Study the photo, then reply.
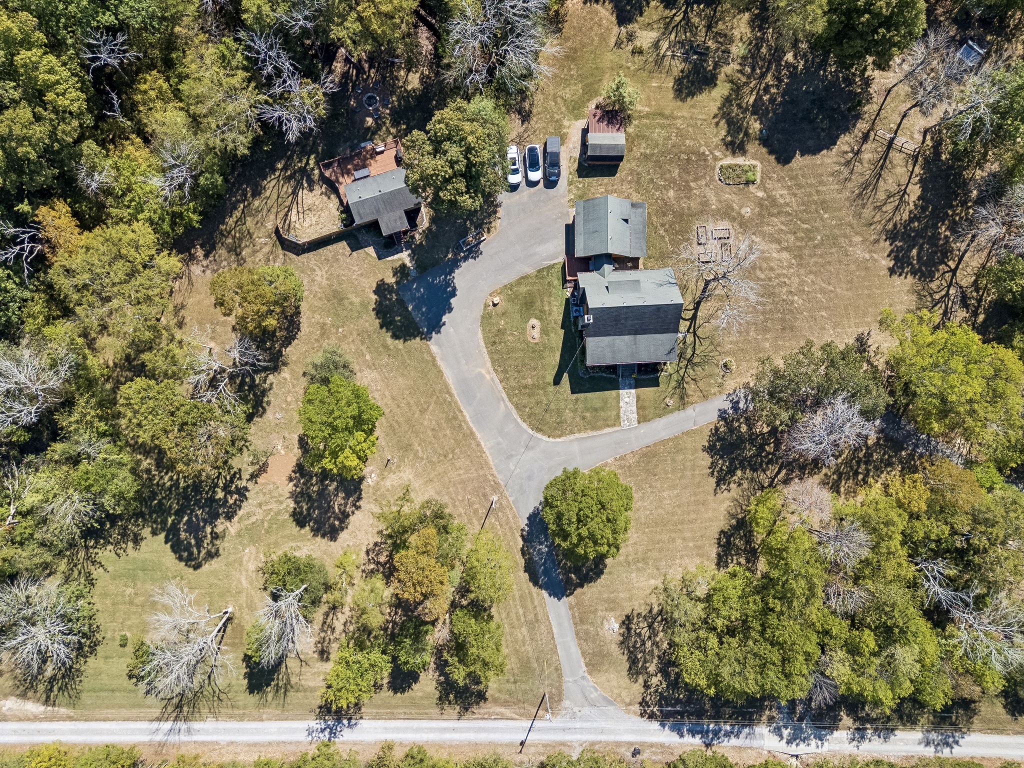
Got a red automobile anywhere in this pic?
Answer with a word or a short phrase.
No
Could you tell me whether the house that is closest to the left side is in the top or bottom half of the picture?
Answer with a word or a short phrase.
top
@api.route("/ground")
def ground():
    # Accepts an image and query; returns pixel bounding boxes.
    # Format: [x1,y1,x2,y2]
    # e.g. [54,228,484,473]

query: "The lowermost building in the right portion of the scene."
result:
[575,267,684,376]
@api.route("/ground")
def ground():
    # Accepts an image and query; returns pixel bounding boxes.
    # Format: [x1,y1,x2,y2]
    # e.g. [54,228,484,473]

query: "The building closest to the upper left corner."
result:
[346,166,421,248]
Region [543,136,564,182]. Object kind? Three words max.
truck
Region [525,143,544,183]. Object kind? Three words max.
car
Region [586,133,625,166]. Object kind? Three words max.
shed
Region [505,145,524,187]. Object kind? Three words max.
car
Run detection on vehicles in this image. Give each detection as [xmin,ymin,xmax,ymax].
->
[525,143,544,183]
[505,145,524,187]
[543,136,564,182]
